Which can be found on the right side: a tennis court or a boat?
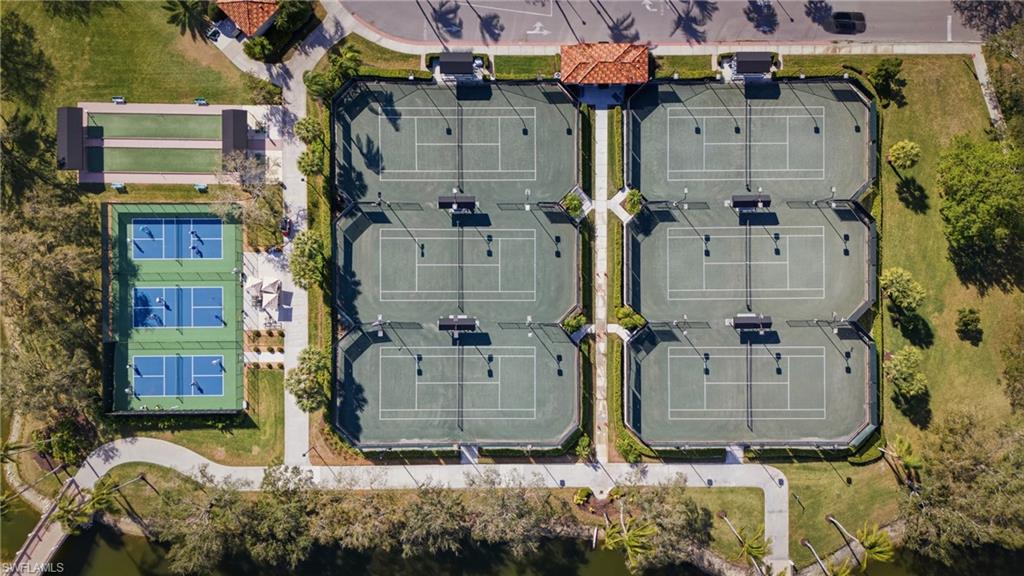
tennis court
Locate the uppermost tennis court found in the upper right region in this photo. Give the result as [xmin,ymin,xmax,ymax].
[627,85,865,204]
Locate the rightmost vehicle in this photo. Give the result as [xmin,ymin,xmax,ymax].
[831,10,865,27]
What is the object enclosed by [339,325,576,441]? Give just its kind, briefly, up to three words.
tennis court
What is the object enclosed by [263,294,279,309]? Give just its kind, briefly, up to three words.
umbrella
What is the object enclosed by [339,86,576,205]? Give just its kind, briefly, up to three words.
tennis court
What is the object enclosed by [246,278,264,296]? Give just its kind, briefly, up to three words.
umbrella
